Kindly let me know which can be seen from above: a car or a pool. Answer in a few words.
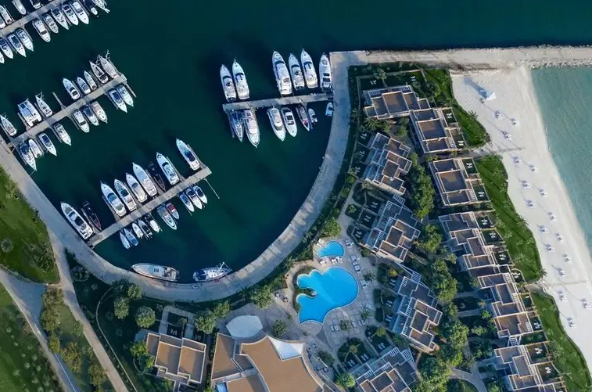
pool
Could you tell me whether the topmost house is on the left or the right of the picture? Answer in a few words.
right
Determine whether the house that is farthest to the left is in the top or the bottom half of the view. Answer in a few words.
bottom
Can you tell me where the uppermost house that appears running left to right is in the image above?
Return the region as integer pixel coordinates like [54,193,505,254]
[363,85,430,121]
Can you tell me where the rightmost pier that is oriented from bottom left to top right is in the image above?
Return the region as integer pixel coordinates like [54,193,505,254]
[79,143,219,246]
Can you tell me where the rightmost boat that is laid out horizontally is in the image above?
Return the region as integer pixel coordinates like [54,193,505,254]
[193,265,231,280]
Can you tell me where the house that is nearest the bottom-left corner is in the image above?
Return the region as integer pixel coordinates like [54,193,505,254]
[147,333,206,392]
